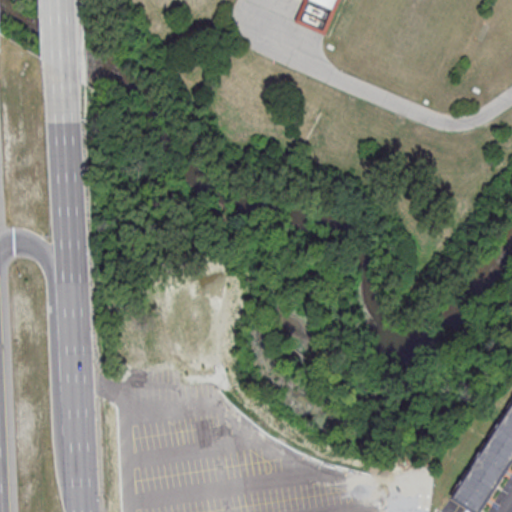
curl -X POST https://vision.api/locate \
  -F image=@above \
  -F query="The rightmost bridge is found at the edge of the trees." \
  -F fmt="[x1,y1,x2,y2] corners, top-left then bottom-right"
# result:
[38,0,87,122]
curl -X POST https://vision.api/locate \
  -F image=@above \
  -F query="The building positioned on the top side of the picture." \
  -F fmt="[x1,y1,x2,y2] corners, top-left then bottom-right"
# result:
[295,0,340,34]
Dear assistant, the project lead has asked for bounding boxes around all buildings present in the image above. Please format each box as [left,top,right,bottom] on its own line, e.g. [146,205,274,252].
[295,0,340,34]
[454,408,512,512]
